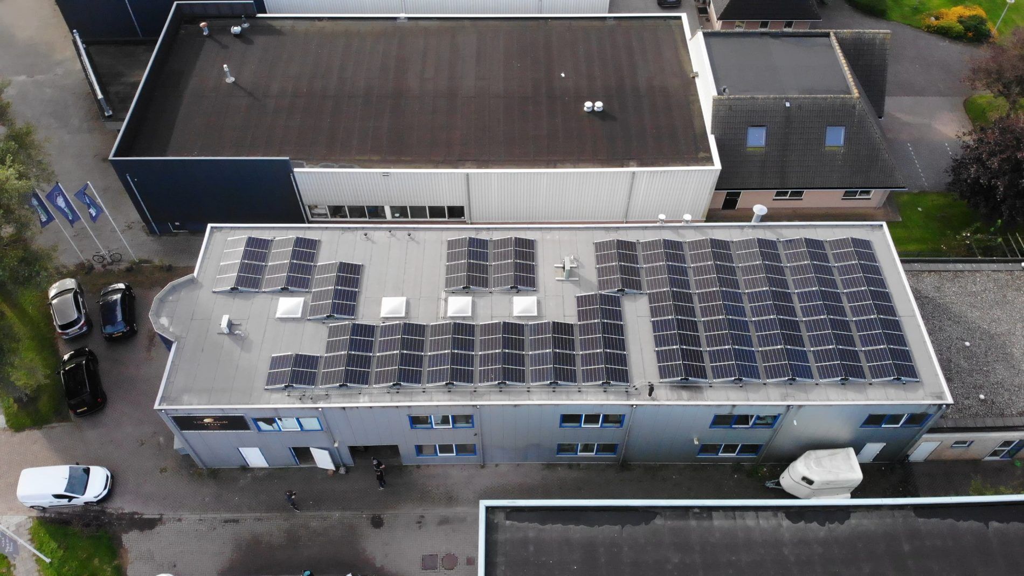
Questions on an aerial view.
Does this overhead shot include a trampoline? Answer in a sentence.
No, there's no trampoline here.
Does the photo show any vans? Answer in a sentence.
Yes, this view includes a van.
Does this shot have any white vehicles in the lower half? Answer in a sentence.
Yes, I can see a white vehicle in the lower half.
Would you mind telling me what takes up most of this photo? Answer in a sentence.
What you mostly see from above here is buildings.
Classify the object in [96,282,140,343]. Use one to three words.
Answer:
car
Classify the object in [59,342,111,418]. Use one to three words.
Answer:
car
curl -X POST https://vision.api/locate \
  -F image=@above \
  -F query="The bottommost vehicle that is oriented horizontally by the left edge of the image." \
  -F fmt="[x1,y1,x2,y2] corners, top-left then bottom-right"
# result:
[10,456,114,507]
